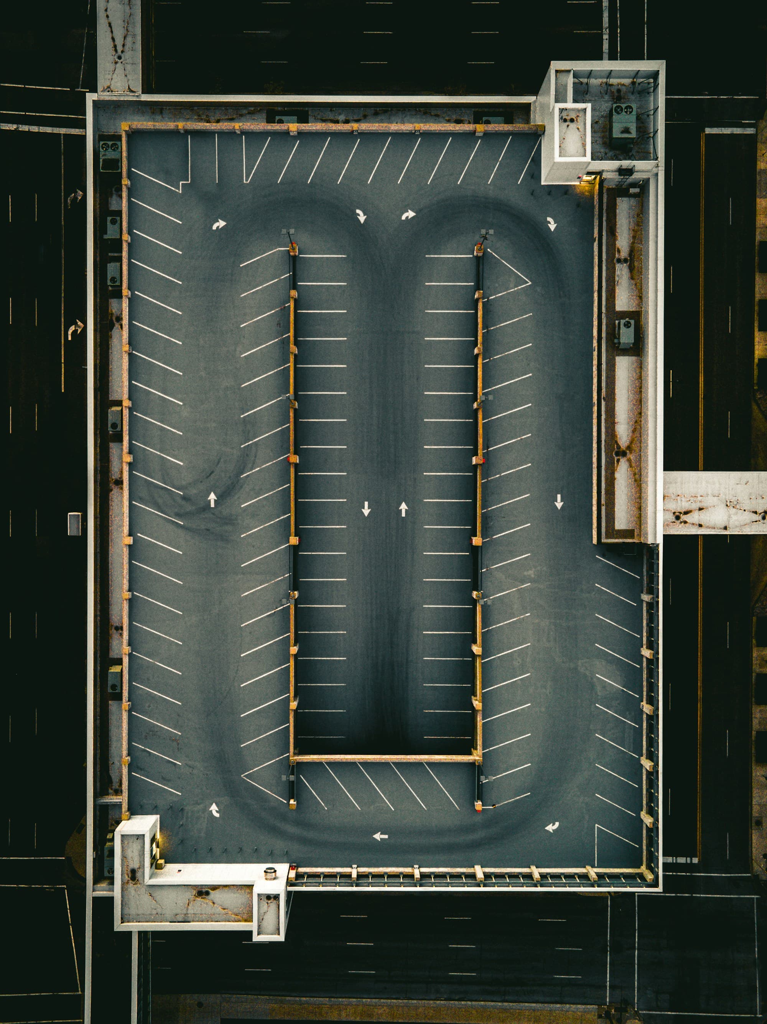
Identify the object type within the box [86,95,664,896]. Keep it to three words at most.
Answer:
building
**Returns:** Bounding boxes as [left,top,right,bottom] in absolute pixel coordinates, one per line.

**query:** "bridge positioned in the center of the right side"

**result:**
[664,472,767,534]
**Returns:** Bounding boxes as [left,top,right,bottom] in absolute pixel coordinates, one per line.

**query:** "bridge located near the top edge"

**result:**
[97,0,150,101]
